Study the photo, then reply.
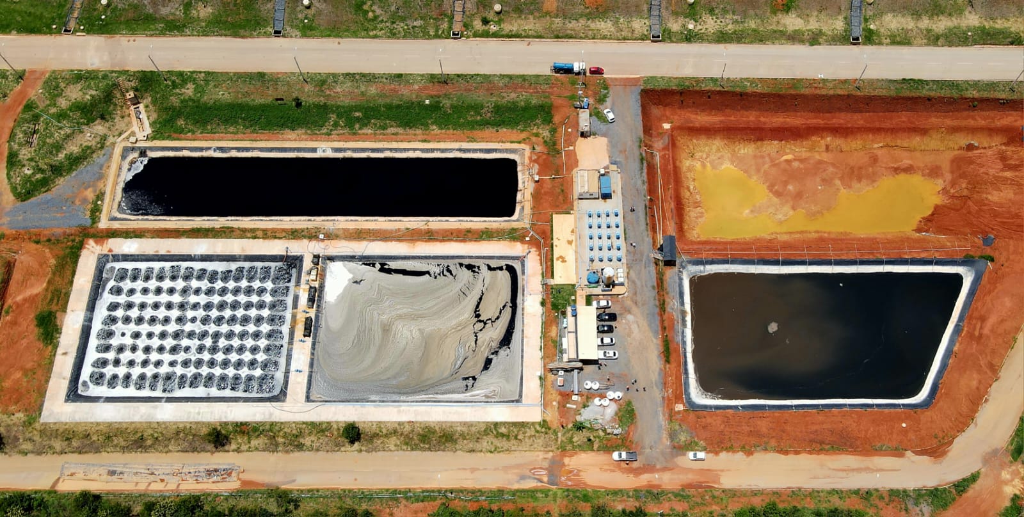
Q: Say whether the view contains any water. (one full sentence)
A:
Yes, there is water in the image.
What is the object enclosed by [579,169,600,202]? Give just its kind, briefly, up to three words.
building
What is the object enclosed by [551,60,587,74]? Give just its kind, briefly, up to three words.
vehicle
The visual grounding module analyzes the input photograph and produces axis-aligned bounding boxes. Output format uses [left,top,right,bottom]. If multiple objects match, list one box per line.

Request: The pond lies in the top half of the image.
[109,146,520,223]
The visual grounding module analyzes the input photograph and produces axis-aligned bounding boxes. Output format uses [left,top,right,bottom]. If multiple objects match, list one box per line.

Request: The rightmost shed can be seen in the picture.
[657,235,676,263]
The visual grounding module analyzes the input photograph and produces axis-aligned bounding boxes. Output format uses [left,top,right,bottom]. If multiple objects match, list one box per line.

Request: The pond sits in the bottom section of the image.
[675,257,989,412]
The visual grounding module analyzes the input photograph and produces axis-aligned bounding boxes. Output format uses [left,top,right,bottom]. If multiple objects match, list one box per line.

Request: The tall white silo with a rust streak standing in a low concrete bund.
[600,269,617,296]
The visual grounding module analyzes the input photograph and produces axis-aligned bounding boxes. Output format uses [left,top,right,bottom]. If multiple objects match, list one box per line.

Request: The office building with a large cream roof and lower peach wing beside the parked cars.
[563,306,598,363]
